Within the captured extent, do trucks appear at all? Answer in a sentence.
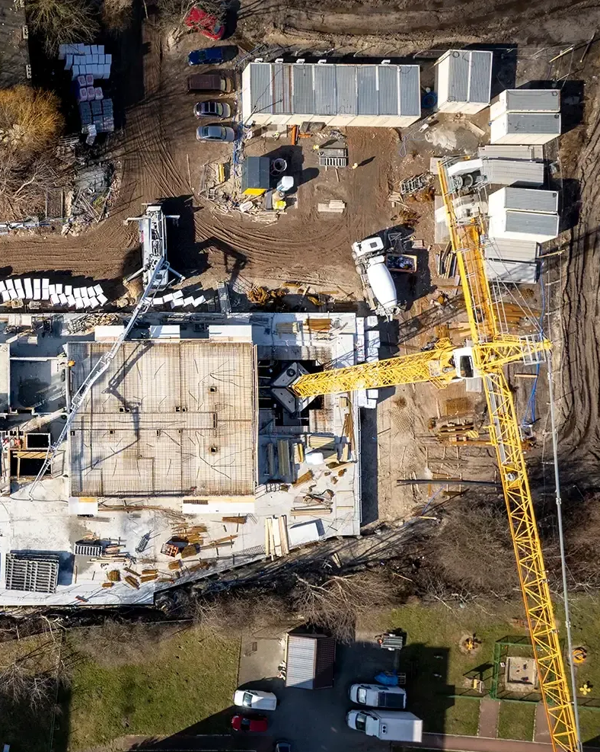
Yes, you can see a truck in this photo.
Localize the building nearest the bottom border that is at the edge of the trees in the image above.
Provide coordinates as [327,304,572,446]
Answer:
[281,632,336,693]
